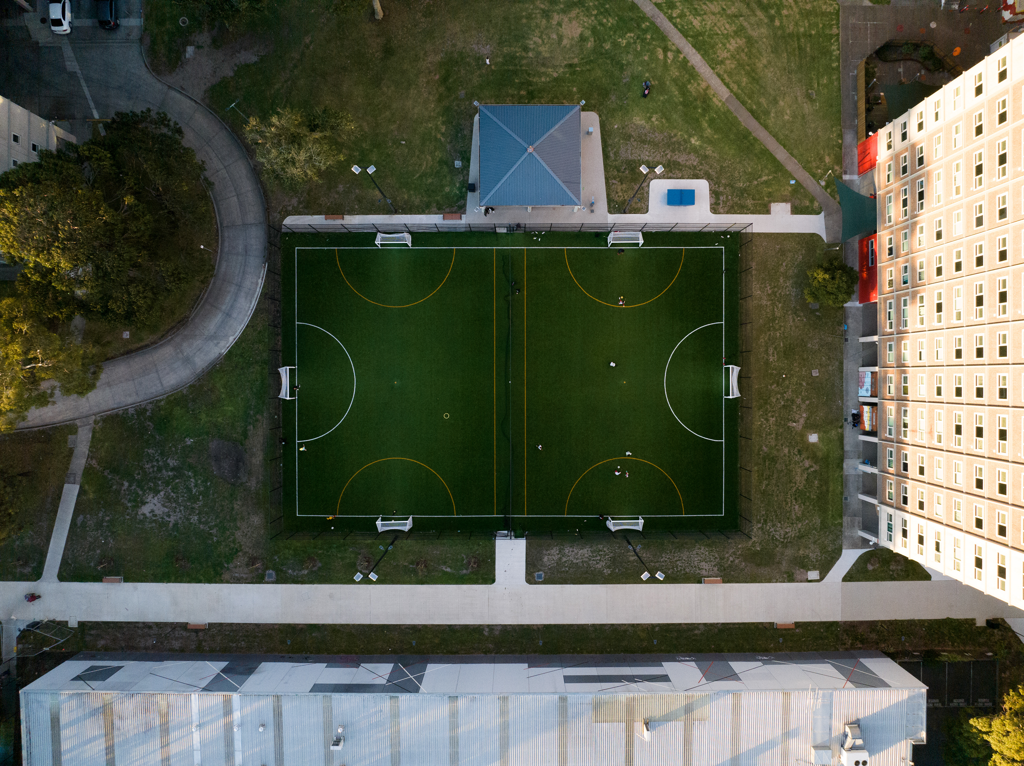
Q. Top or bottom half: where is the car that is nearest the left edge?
top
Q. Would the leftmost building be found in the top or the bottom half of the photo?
top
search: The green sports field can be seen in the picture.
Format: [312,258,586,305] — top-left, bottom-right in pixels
[281,232,740,532]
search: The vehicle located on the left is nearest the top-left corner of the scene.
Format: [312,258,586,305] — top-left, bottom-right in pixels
[48,0,73,32]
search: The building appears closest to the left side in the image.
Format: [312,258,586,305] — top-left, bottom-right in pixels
[0,92,88,202]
